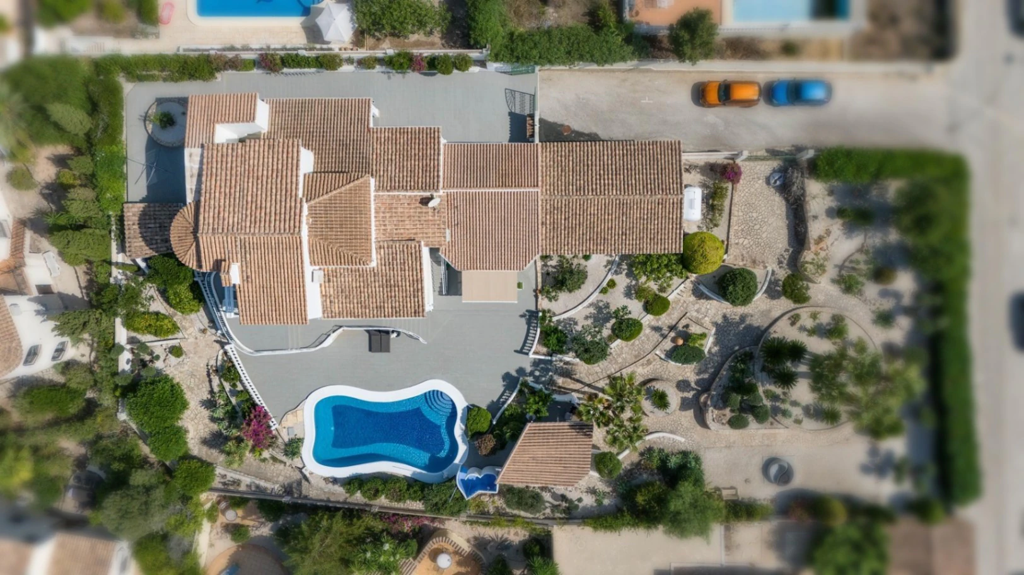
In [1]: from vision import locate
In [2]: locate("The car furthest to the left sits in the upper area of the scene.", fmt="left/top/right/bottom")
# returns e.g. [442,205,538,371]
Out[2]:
[700,74,760,106]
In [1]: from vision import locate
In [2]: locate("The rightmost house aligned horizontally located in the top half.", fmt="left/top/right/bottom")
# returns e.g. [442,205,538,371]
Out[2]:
[122,91,684,327]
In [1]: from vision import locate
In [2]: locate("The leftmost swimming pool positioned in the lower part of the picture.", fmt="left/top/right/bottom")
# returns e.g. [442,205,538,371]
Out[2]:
[301,379,468,482]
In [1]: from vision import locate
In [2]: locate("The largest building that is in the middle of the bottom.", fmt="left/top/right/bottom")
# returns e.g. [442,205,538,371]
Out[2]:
[498,416,593,487]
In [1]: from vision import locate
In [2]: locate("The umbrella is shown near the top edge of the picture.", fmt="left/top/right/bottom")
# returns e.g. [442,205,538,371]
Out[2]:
[315,1,357,42]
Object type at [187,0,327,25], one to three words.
swimming pool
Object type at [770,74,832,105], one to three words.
car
